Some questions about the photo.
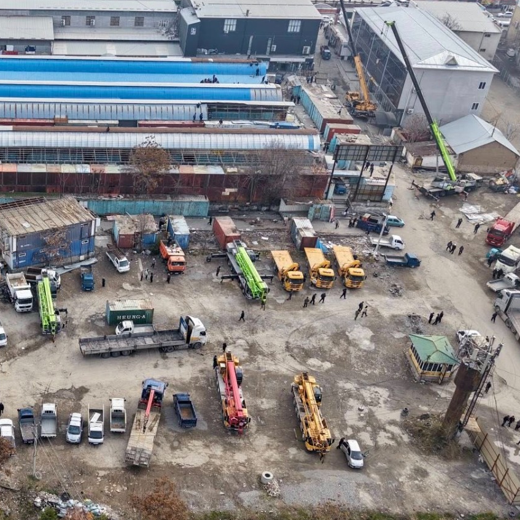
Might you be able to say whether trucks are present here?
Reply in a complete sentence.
Yes, the frame does contain a truck.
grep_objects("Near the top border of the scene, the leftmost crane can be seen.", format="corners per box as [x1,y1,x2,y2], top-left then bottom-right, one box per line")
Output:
[328,0,392,115]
